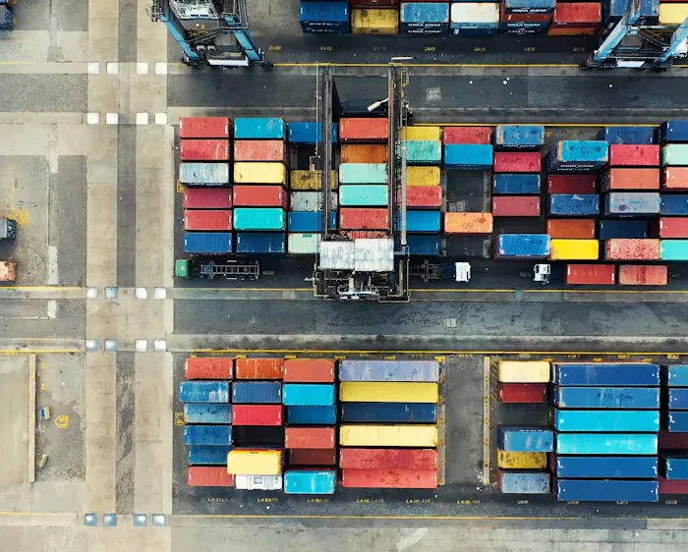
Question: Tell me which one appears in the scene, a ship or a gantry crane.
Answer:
gantry crane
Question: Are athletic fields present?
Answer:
No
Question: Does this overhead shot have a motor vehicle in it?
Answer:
Yes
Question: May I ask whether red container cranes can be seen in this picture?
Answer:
No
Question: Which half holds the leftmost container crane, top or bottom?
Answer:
top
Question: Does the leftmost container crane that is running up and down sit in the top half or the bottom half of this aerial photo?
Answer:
top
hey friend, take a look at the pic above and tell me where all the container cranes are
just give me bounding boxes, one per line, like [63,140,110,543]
[301,58,424,311]
[579,0,688,74]
[152,0,283,71]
